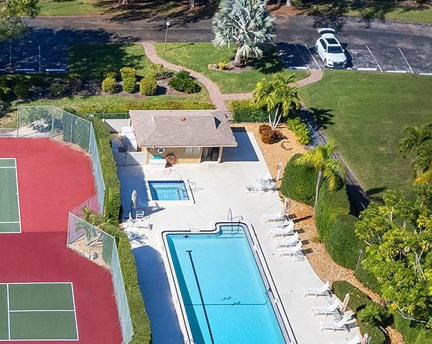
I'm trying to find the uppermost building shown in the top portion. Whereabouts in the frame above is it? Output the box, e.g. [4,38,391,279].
[129,110,237,163]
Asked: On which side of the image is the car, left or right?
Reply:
right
